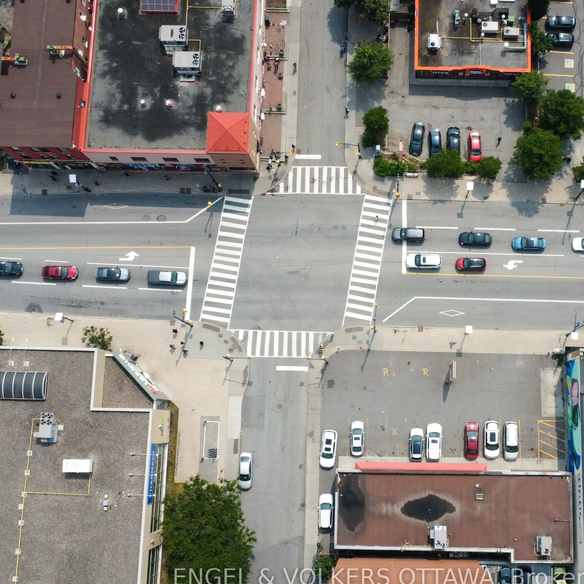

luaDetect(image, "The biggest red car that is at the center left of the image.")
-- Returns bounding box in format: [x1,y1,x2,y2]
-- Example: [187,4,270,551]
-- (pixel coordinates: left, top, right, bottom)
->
[40,264,80,280]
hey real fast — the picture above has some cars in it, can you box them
[503,421,521,461]
[349,421,365,457]
[0,259,24,276]
[392,226,426,242]
[469,131,483,163]
[317,493,334,531]
[553,566,570,584]
[499,566,515,584]
[545,13,577,30]
[464,422,481,459]
[408,428,426,461]
[459,230,493,246]
[483,420,502,459]
[549,30,575,47]
[238,452,254,490]
[93,266,132,281]
[406,252,442,269]
[426,422,443,461]
[40,264,80,280]
[519,566,533,584]
[445,125,462,156]
[571,237,584,252]
[409,120,427,156]
[455,255,486,270]
[428,127,442,156]
[512,235,546,250]
[319,429,338,469]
